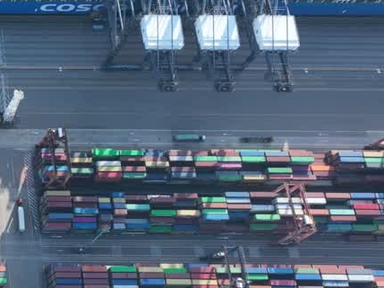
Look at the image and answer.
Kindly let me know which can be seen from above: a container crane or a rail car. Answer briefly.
container crane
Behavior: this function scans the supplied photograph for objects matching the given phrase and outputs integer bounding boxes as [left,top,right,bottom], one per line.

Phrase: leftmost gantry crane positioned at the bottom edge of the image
[204,242,252,288]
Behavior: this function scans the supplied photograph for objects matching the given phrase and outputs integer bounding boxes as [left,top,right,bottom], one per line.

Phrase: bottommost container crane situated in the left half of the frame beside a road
[31,130,65,191]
